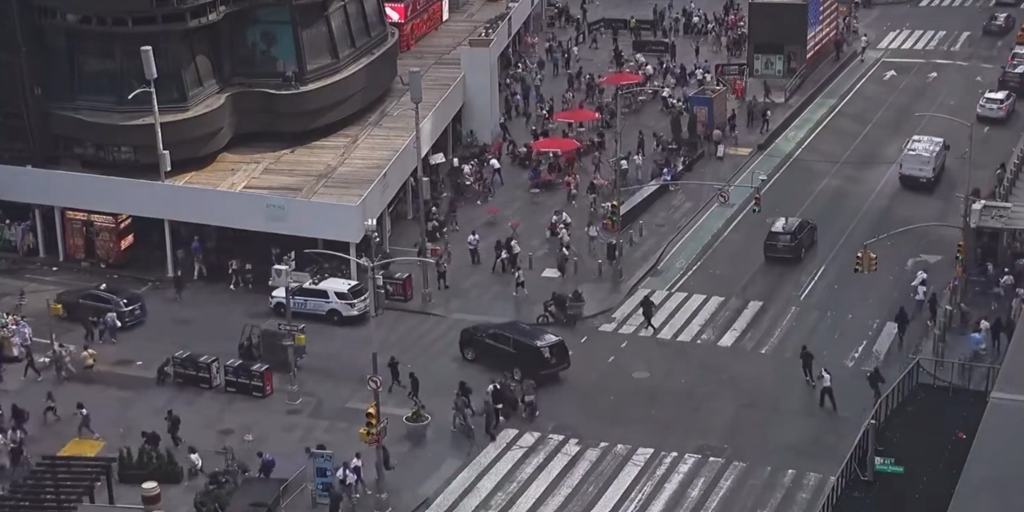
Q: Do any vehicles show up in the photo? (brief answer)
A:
Yes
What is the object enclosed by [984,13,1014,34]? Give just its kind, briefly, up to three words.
car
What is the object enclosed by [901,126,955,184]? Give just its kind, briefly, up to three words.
vehicle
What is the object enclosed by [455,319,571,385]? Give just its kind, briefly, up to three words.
car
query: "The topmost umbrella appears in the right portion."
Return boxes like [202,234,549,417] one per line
[600,75,643,115]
